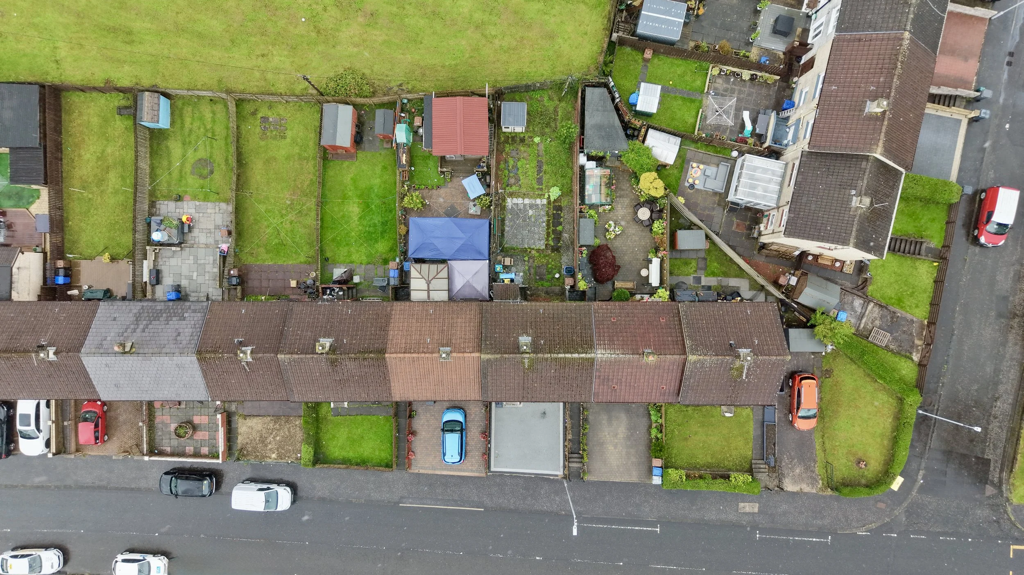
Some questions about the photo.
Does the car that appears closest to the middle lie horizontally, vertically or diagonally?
vertically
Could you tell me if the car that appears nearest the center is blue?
Yes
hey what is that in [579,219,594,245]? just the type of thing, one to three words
shed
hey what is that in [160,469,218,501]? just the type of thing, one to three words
car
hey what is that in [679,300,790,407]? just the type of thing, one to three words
house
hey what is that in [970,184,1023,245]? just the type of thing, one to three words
van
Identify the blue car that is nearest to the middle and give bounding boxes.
[439,407,469,464]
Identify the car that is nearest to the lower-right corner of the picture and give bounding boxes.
[790,371,826,430]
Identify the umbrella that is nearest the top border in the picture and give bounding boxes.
[462,174,485,199]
